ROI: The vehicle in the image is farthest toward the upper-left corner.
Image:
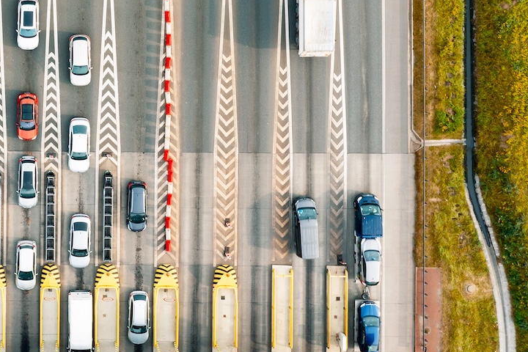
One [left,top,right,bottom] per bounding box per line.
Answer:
[15,0,39,49]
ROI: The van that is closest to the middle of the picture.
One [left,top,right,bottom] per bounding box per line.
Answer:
[292,196,323,261]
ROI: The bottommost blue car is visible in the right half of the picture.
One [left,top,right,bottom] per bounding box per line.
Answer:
[356,300,385,352]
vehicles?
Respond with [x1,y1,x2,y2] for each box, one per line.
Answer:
[14,240,37,290]
[354,194,385,290]
[125,180,148,232]
[292,196,323,261]
[356,300,385,352]
[15,156,39,208]
[290,0,333,57]
[358,242,386,287]
[68,34,90,86]
[68,212,92,267]
[66,116,90,172]
[126,289,149,345]
[15,92,38,140]
[15,0,39,49]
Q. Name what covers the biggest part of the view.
paved ground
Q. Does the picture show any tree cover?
No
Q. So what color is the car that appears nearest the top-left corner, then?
white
